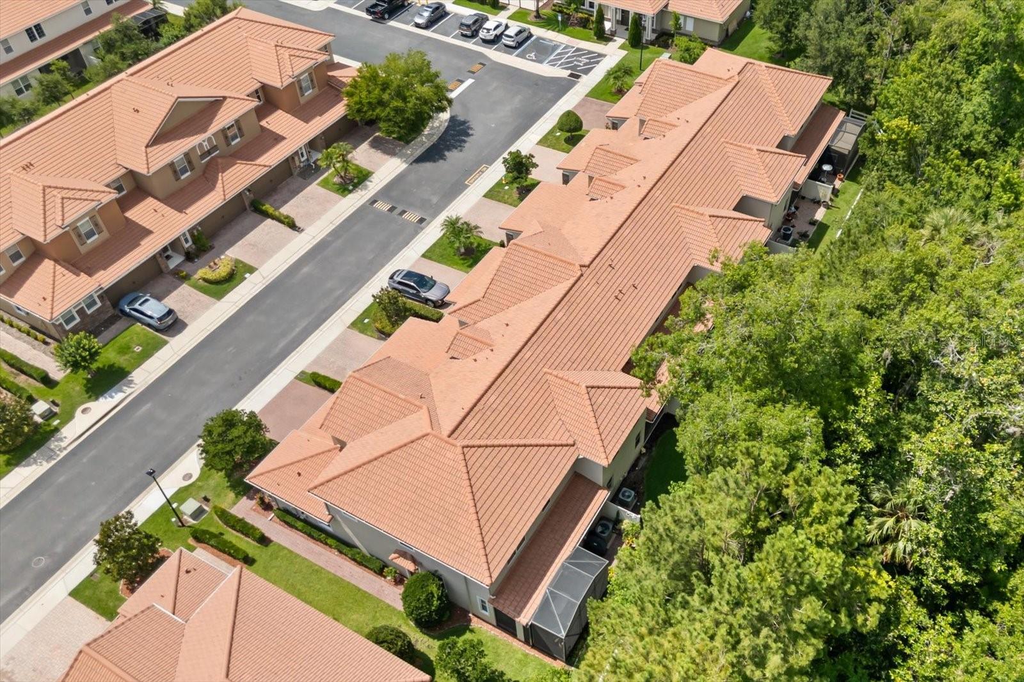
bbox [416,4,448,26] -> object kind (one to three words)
car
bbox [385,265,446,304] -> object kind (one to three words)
car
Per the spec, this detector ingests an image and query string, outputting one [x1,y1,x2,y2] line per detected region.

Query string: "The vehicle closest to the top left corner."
[119,292,177,329]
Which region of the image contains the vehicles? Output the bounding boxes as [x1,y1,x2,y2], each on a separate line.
[476,20,508,42]
[499,27,528,47]
[385,265,446,304]
[454,14,487,37]
[119,292,177,329]
[369,0,408,18]
[416,4,448,26]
